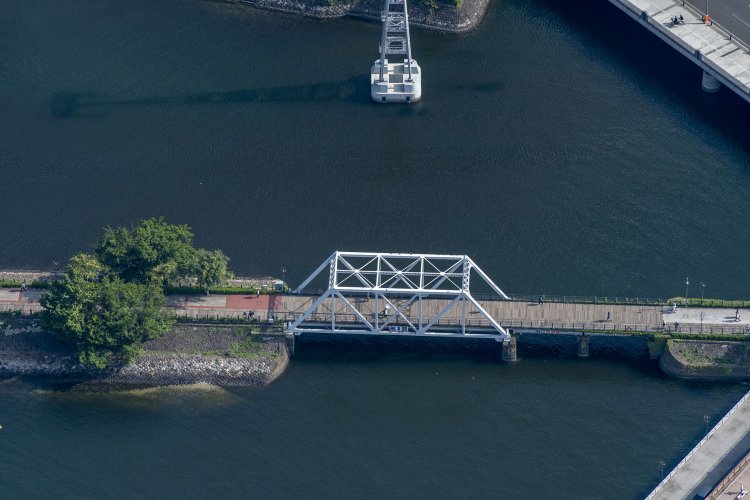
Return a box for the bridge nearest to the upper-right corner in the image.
[584,0,750,103]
